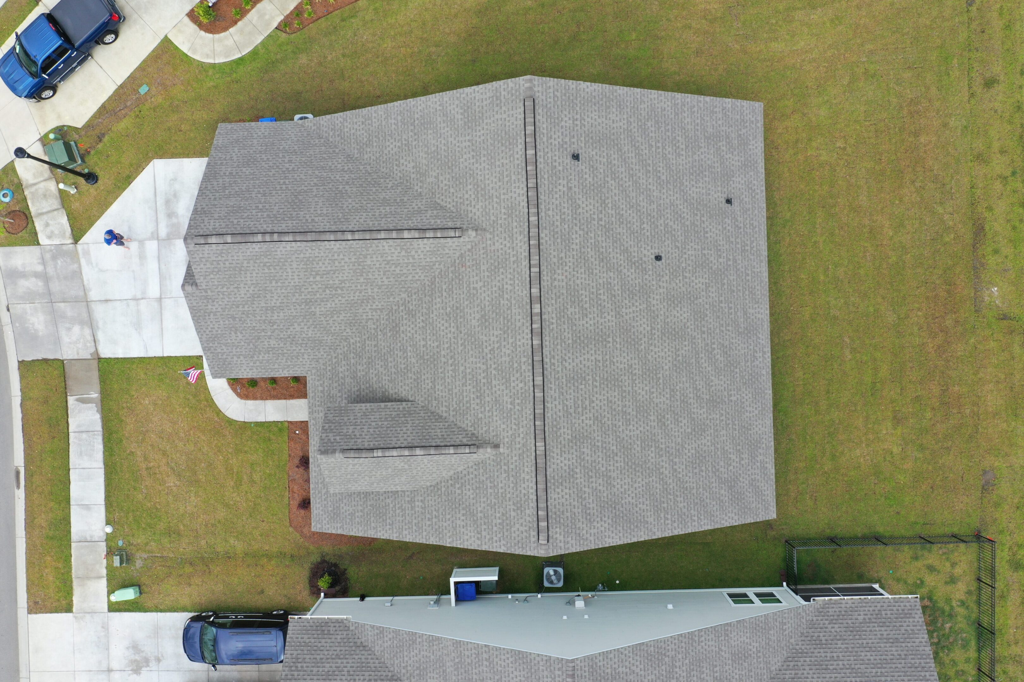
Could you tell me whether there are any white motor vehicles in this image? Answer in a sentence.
No, there appears to be no white motor vehicle in this shot.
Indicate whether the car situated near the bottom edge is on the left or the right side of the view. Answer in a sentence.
The car situated near the bottom edge sits on the left side.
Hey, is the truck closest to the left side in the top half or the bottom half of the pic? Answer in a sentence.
The truck closest to the left side is in the top half of the image.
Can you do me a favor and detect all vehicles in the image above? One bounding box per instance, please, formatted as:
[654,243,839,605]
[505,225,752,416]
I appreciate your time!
[0,0,130,110]
[180,608,298,672]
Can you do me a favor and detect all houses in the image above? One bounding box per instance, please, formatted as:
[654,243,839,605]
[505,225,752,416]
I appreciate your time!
[182,74,776,556]
[284,577,934,682]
